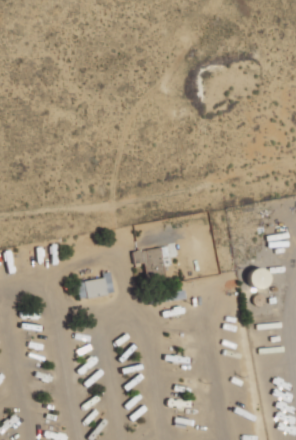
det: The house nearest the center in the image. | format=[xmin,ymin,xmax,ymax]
[134,244,178,281]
